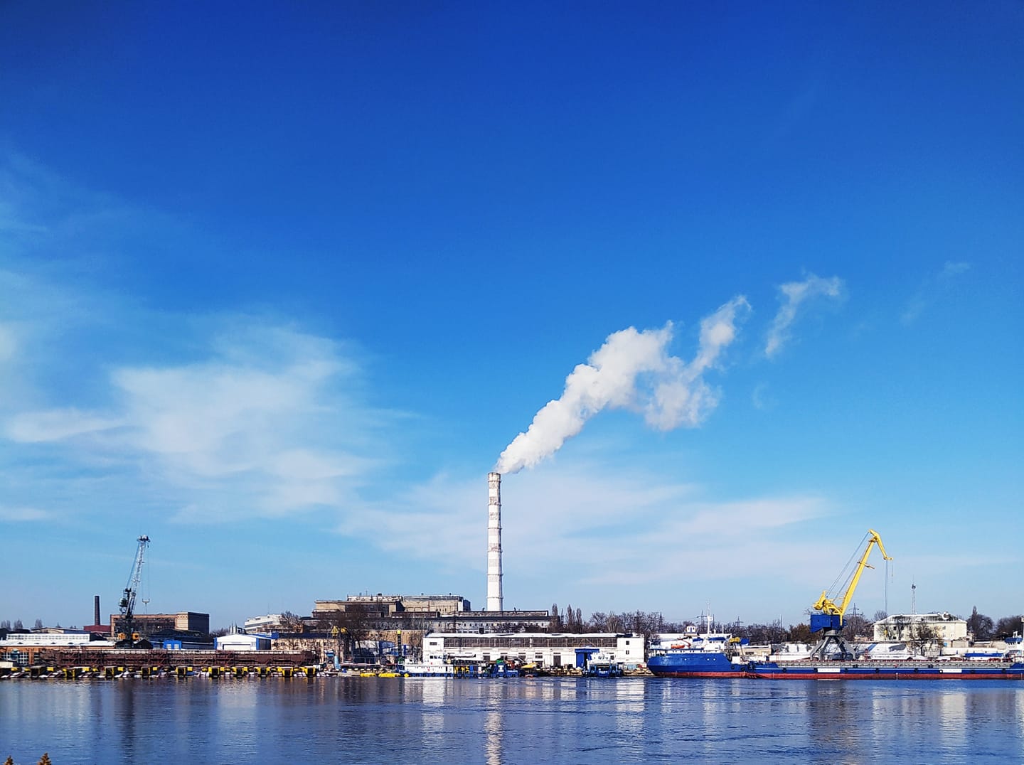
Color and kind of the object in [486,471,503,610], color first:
white chimney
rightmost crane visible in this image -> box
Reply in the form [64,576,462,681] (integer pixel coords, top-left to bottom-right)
[809,529,893,661]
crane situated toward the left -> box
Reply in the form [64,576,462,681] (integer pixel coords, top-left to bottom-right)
[118,537,154,640]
